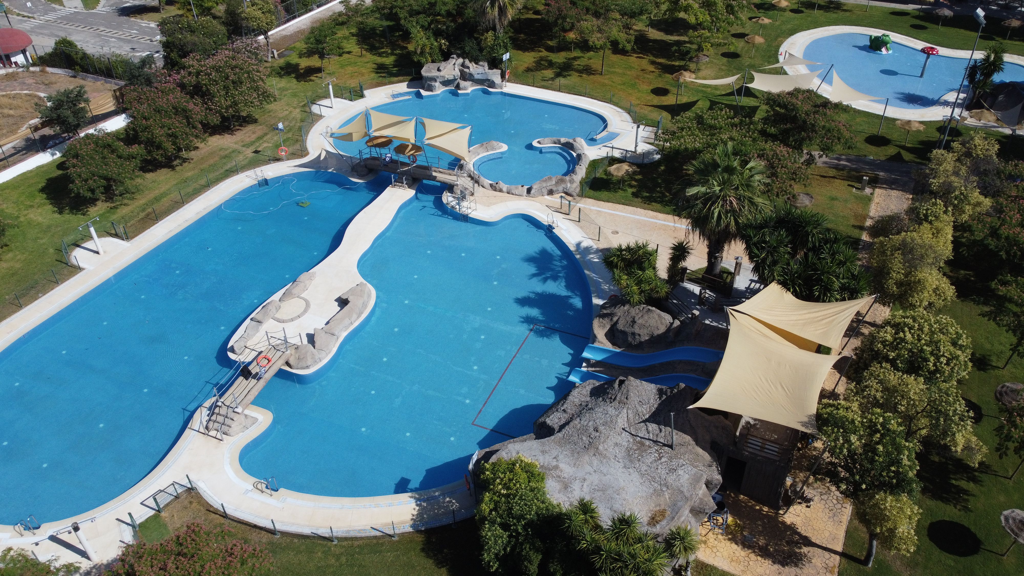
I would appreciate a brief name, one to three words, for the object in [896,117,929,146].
umbrella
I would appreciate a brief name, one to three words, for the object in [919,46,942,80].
fountain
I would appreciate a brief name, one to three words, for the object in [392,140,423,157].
umbrella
